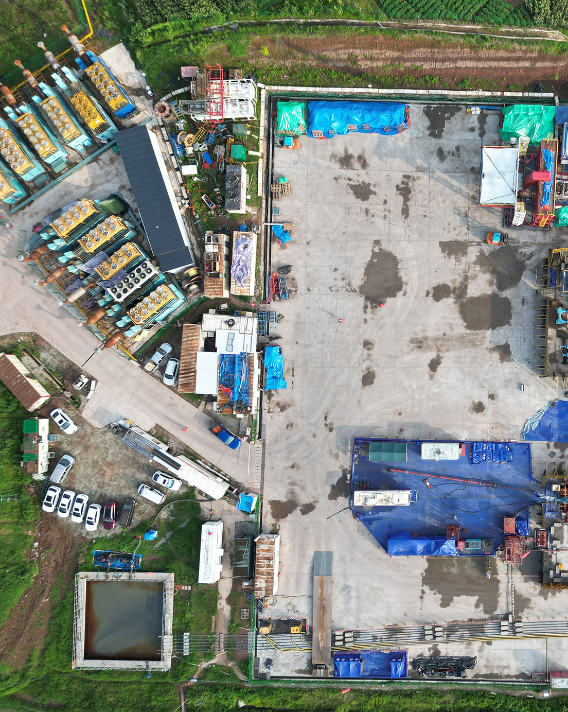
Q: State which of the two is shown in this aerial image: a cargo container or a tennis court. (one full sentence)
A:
The one in the frame is a cargo container.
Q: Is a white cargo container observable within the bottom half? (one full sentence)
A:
Yes, within the bottom half there is a white cargo container.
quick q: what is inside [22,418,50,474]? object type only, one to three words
building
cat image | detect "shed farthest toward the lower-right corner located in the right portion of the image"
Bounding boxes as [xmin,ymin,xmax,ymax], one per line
[549,667,568,688]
